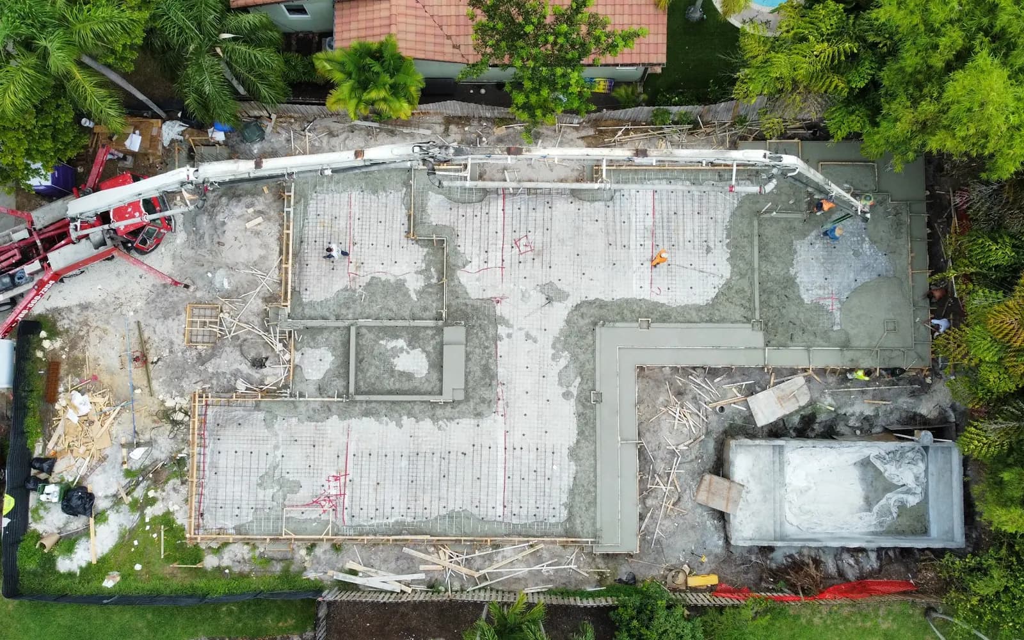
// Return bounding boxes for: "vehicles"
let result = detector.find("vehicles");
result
[0,140,871,338]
